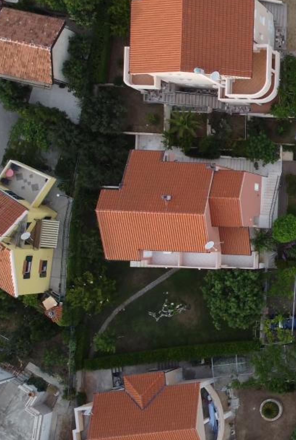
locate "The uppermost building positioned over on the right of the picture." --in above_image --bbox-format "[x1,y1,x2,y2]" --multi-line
[125,0,293,111]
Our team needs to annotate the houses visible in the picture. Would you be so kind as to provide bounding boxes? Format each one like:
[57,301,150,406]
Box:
[125,0,293,111]
[0,354,71,440]
[0,160,71,298]
[95,136,290,269]
[71,364,233,440]
[0,7,85,90]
